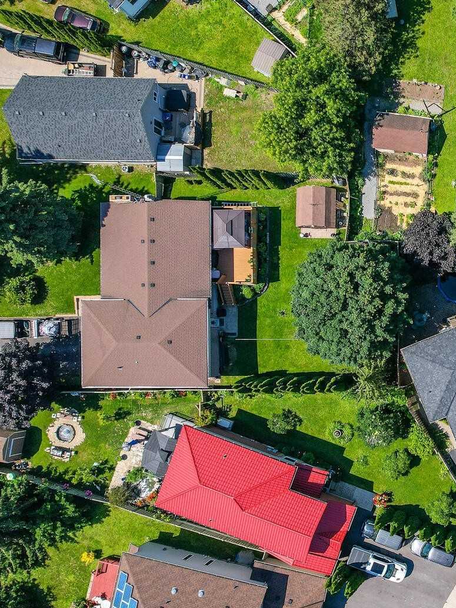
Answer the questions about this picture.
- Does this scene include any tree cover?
Yes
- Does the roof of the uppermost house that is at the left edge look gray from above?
Yes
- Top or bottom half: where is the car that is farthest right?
bottom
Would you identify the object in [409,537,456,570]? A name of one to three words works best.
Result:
car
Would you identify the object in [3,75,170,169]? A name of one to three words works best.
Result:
house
